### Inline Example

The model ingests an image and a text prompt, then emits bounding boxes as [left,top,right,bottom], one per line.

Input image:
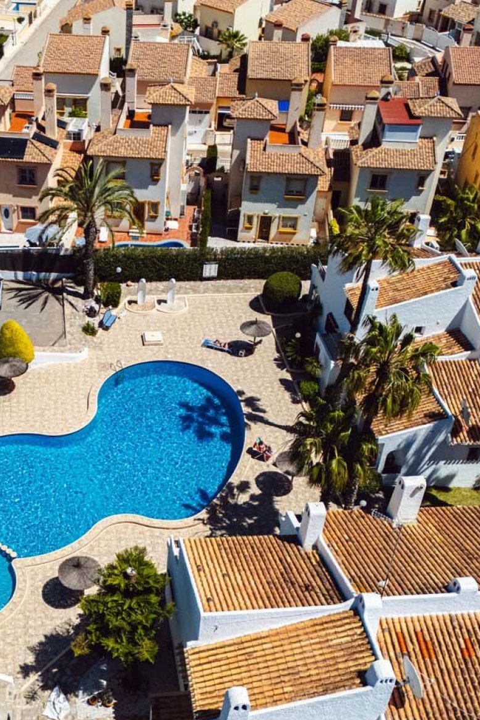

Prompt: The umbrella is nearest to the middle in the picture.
[239,320,272,354]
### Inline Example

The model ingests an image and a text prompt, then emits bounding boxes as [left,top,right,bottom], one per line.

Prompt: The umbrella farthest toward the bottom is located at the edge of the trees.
[57,558,100,599]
